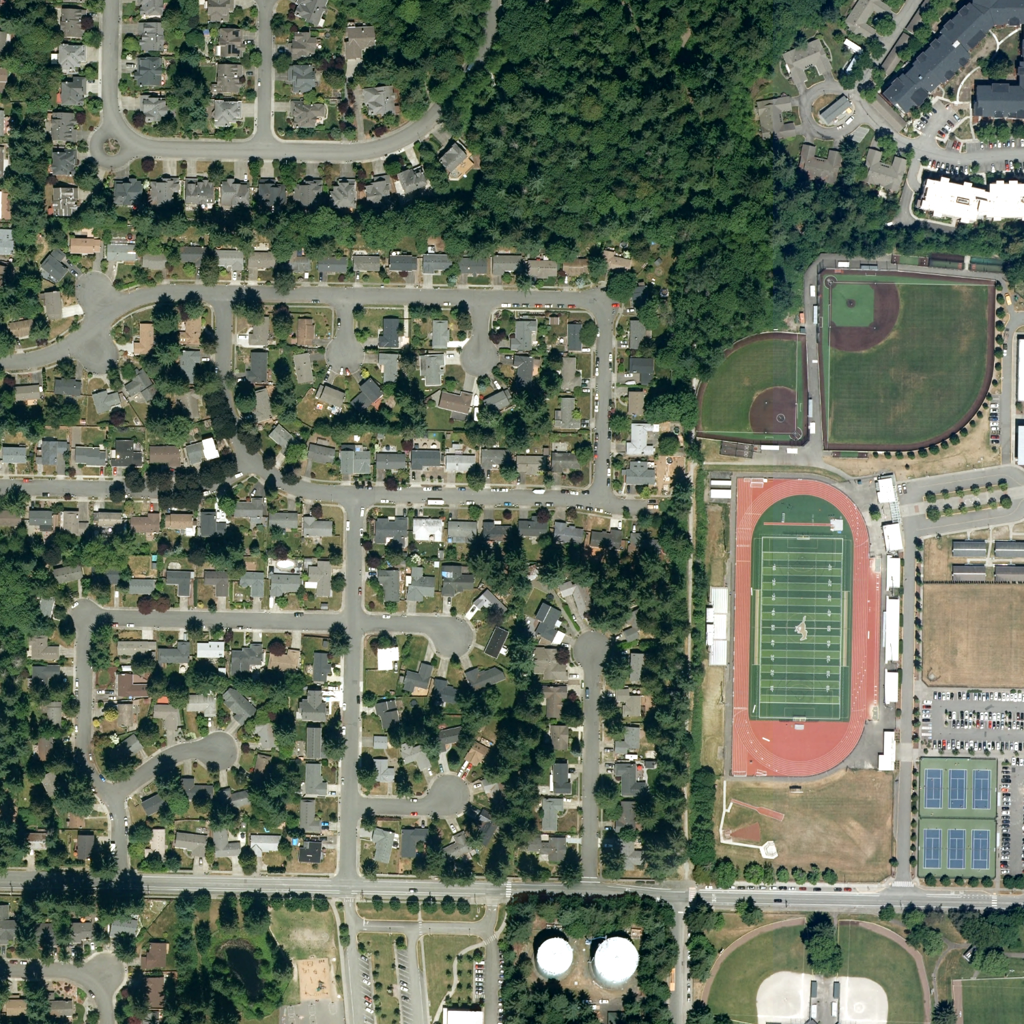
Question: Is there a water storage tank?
Yes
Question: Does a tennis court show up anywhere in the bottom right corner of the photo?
Yes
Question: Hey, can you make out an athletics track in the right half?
Yes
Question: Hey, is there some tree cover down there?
Yes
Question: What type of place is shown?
residential area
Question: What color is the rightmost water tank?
white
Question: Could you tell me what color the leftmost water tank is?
white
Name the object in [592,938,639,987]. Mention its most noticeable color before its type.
white water tank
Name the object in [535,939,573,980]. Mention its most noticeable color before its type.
white water tank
